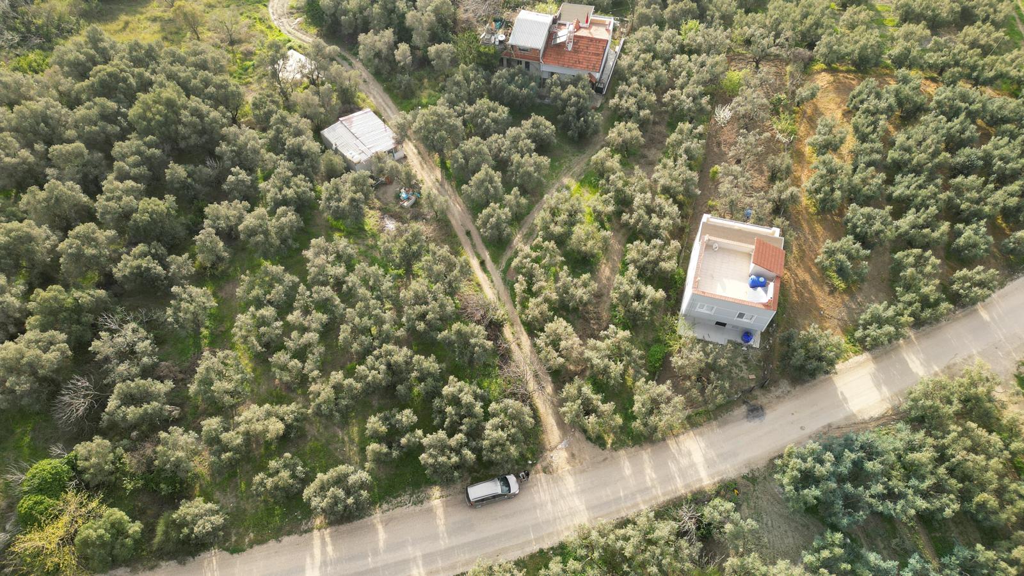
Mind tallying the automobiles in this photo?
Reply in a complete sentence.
In total, 1 automobile can be seen.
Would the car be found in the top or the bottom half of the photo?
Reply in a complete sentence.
The bottom half of the photo is where the car is.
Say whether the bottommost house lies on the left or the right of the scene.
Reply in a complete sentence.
It is on the right.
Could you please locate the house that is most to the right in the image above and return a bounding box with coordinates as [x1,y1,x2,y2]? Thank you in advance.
[677,216,786,349]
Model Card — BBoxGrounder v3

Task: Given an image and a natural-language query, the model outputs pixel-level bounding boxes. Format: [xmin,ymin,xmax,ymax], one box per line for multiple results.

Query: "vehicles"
[464,471,520,502]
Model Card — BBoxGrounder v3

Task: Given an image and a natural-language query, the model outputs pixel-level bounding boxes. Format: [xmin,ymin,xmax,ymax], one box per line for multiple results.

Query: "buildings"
[500,2,616,97]
[324,105,402,177]
[677,216,786,349]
